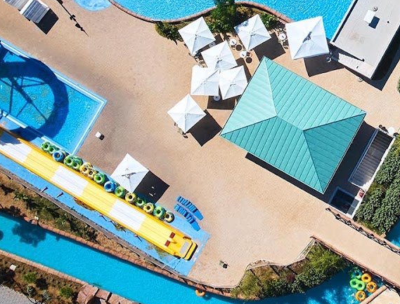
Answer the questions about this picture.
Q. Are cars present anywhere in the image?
No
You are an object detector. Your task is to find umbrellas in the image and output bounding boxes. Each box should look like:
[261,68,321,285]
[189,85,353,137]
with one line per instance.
[104,155,148,199]
[285,14,332,61]
[201,38,238,74]
[234,13,274,53]
[190,67,221,97]
[167,94,204,133]
[180,15,218,53]
[216,66,247,99]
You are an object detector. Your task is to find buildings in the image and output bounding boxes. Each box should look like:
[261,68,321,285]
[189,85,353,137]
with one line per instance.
[221,57,366,194]
[329,0,400,79]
